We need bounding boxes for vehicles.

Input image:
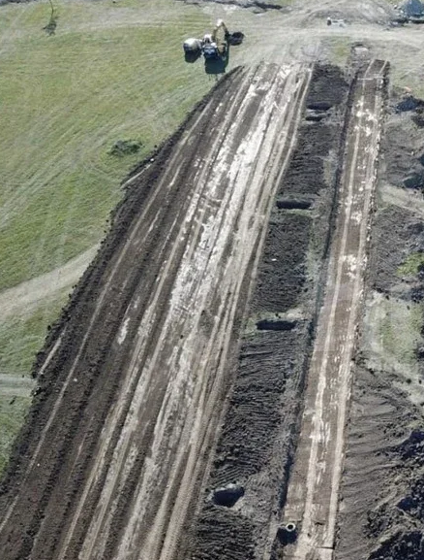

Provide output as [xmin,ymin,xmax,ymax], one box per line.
[199,13,238,57]
[180,36,207,51]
